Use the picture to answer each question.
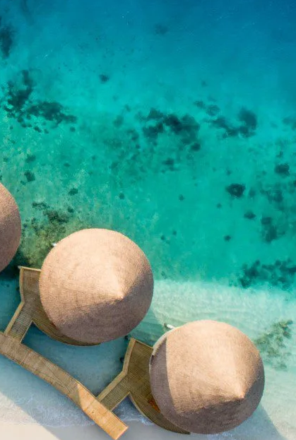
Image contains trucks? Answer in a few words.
No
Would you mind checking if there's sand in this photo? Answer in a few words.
Yes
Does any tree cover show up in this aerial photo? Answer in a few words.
No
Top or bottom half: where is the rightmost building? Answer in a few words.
bottom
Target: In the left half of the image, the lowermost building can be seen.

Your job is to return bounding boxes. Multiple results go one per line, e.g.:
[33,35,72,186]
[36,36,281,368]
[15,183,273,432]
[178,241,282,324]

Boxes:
[4,228,153,347]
